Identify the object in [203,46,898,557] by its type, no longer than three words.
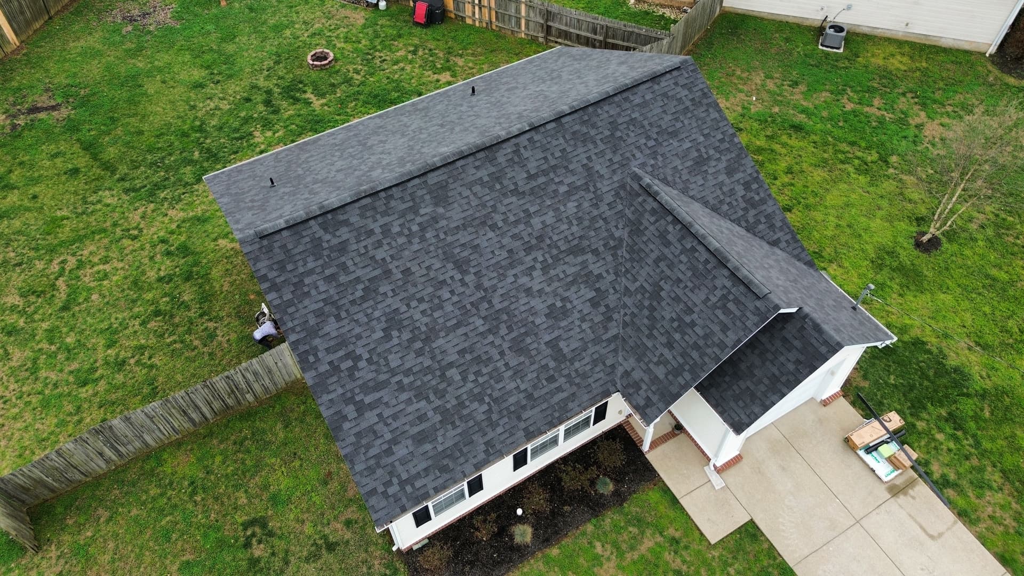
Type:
house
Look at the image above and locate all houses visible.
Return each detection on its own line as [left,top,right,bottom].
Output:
[203,46,898,557]
[722,0,1024,53]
